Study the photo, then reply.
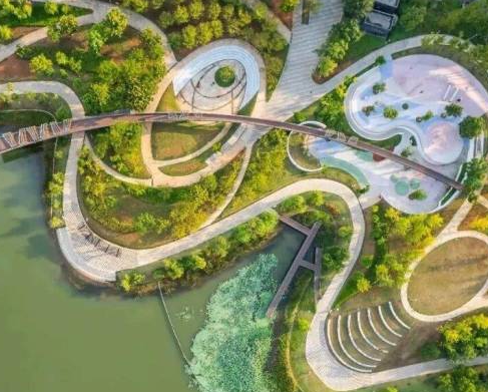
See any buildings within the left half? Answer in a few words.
No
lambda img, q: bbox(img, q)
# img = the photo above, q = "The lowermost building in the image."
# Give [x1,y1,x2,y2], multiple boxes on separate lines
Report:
[360,9,397,39]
